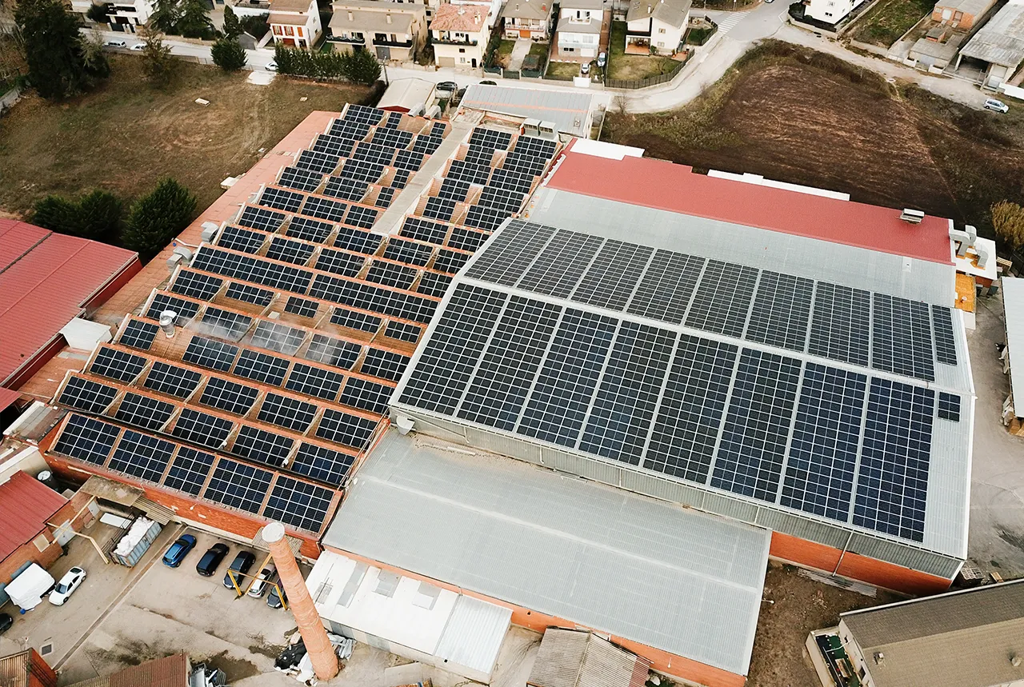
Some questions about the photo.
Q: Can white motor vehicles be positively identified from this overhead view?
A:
Yes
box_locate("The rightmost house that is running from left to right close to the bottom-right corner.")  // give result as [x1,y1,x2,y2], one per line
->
[802,575,1024,687]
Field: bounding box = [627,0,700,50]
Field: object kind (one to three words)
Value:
house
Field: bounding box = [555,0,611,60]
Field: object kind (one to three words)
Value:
house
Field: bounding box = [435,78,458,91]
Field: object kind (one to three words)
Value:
vehicle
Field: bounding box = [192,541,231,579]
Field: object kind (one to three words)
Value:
car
